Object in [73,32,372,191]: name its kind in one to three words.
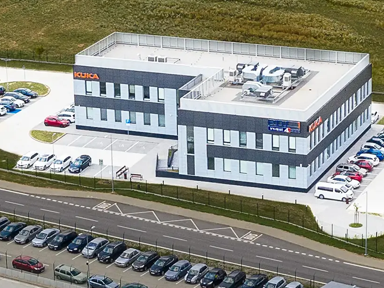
building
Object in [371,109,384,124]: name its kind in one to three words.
vehicle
